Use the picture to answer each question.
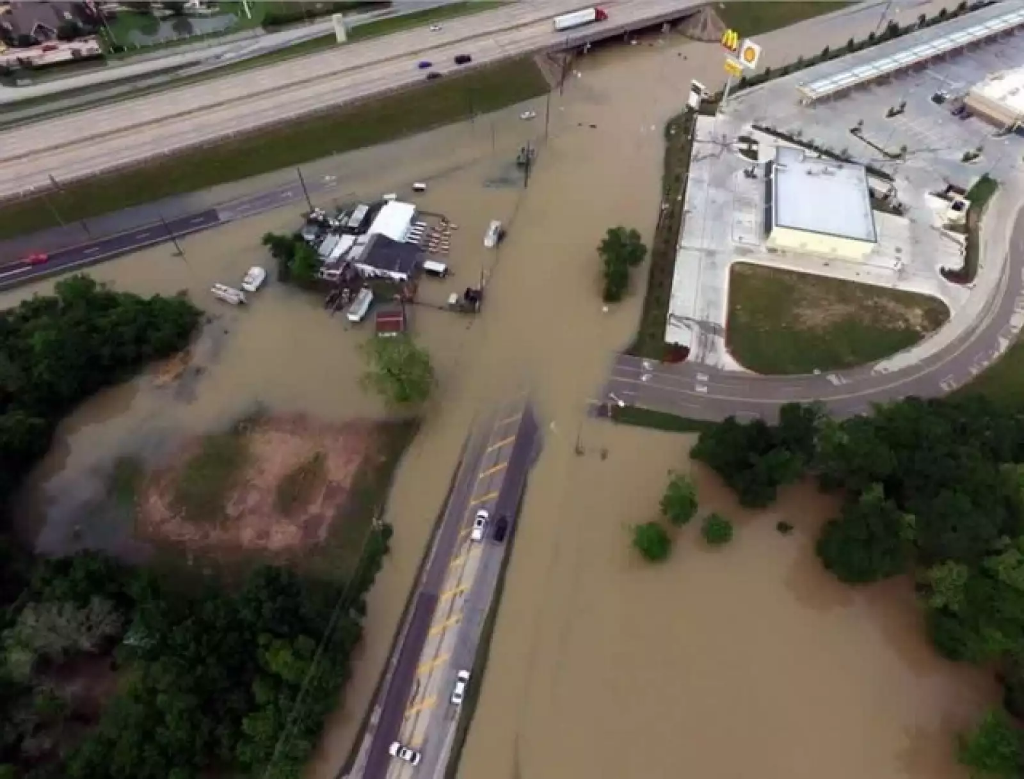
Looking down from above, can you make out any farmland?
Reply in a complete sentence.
No, the picture contains no farmland.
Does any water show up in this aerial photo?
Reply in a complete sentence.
Yes, there's water in this view.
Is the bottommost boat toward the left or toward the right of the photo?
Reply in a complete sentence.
You can find the bottommost boat on the left side of the picture.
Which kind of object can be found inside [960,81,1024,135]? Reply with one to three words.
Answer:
building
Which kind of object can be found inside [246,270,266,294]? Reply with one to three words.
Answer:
vehicle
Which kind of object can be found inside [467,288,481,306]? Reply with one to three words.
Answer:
work vehicle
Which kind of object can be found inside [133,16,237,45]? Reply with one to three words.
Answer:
pond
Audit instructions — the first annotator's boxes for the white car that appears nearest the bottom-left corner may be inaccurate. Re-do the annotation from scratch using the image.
[388,742,422,767]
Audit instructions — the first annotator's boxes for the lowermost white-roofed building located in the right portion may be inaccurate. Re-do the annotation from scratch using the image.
[763,150,872,262]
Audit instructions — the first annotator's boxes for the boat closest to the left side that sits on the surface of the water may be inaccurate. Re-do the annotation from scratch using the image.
[208,284,247,304]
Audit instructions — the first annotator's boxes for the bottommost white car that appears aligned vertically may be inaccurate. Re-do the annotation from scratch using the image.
[450,672,468,705]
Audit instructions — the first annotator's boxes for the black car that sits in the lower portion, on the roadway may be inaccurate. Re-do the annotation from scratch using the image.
[493,515,508,541]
